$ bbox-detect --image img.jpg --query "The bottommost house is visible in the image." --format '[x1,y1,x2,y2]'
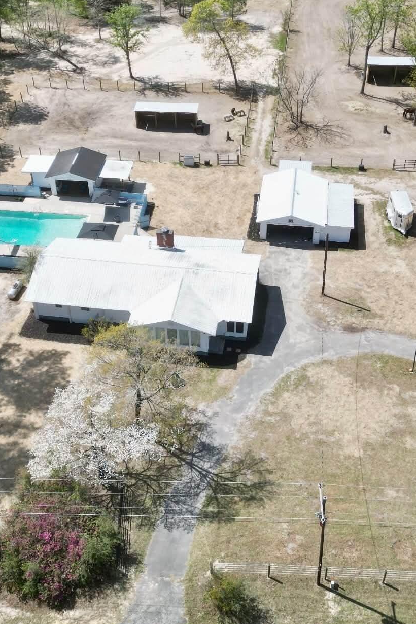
[23,225,262,360]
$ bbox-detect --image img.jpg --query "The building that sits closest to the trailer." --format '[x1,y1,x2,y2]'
[255,160,355,247]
